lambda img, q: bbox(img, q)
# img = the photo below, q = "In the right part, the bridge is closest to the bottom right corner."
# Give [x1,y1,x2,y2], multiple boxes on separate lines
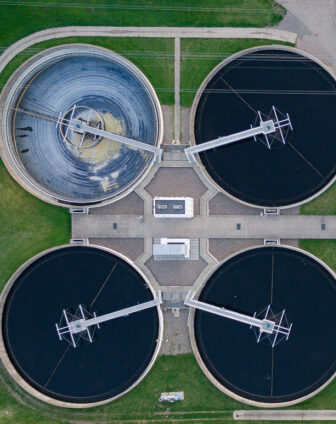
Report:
[189,287,280,335]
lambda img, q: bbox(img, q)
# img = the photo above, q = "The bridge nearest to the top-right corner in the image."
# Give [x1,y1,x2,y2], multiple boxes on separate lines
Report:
[190,117,280,166]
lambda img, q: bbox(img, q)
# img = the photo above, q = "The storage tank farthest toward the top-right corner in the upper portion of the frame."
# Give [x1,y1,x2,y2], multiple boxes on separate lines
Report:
[190,45,336,208]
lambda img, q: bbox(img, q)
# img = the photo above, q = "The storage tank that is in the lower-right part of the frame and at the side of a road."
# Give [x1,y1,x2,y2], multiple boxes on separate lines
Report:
[189,244,336,407]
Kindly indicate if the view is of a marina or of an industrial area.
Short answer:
industrial area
